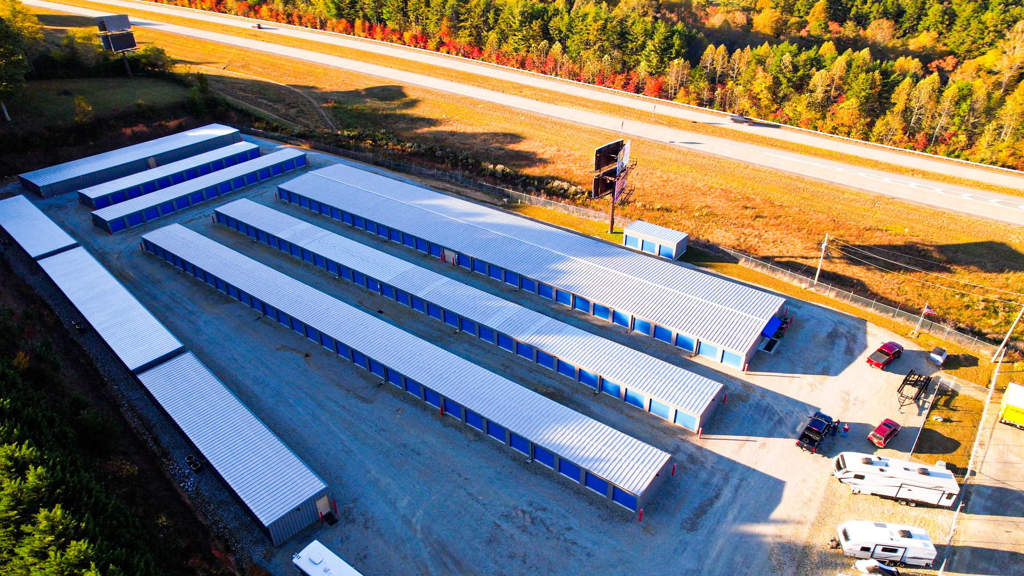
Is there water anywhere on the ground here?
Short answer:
No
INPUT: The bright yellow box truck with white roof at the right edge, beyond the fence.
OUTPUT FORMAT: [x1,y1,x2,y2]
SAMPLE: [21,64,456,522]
[996,383,1024,430]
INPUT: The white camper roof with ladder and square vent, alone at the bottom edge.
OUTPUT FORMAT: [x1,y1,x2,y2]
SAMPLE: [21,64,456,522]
[292,539,358,576]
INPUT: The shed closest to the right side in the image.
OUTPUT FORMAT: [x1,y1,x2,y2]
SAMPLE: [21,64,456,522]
[924,345,948,366]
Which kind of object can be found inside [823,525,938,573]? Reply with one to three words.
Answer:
vehicle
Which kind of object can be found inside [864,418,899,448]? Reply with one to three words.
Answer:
car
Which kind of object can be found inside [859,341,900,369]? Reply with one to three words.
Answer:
truck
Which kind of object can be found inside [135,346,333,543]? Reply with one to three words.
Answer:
building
